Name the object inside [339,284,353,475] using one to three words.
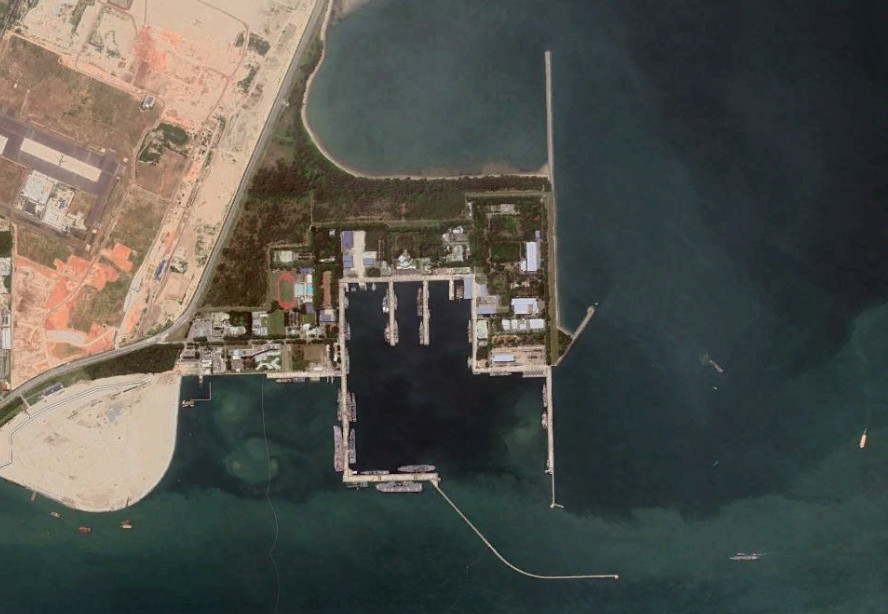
pier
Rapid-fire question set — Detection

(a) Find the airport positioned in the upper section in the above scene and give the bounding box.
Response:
[0,113,118,229]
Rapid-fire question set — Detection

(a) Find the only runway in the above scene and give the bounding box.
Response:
[0,113,117,193]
